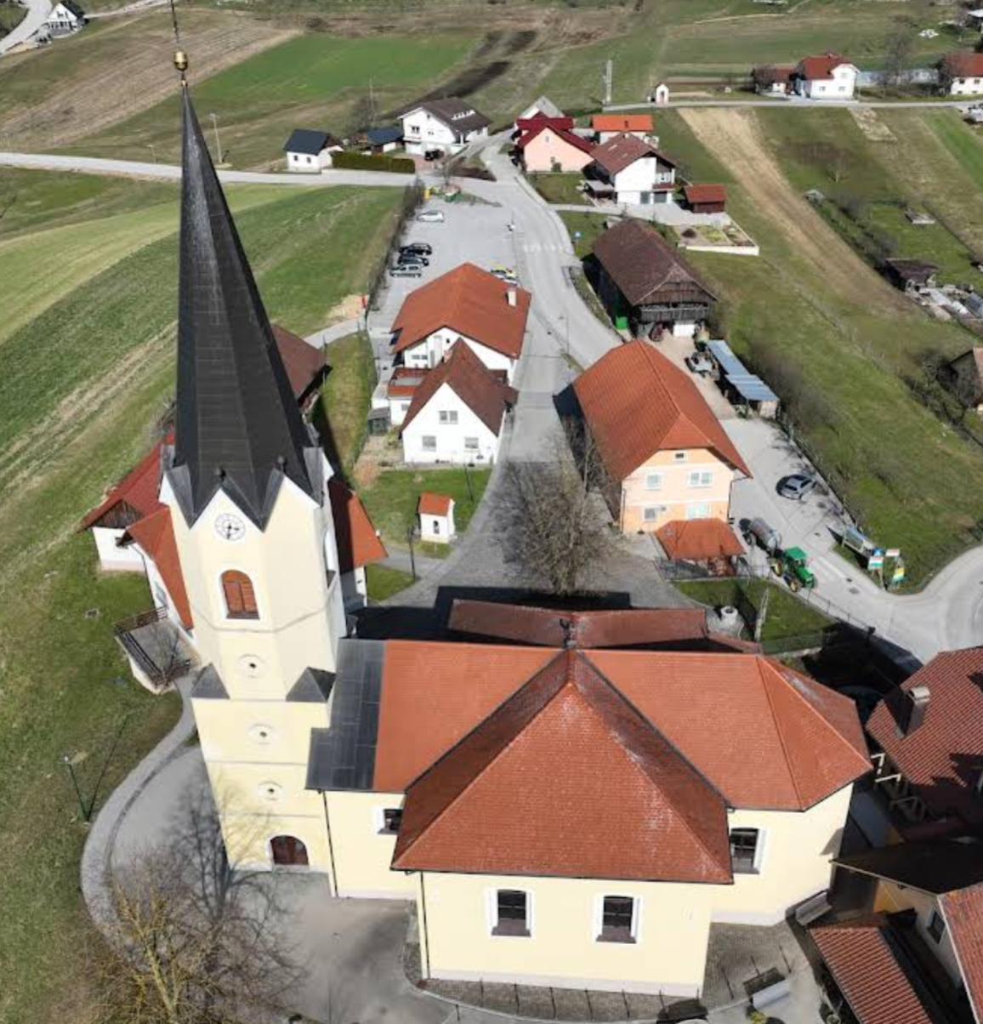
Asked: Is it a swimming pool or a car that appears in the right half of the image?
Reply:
car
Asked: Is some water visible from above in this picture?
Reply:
No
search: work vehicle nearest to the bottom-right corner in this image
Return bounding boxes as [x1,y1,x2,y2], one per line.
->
[773,542,819,595]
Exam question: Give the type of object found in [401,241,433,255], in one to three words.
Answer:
car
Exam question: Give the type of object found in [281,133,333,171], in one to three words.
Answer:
house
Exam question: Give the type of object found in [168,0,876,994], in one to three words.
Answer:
church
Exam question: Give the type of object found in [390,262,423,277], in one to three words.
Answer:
car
